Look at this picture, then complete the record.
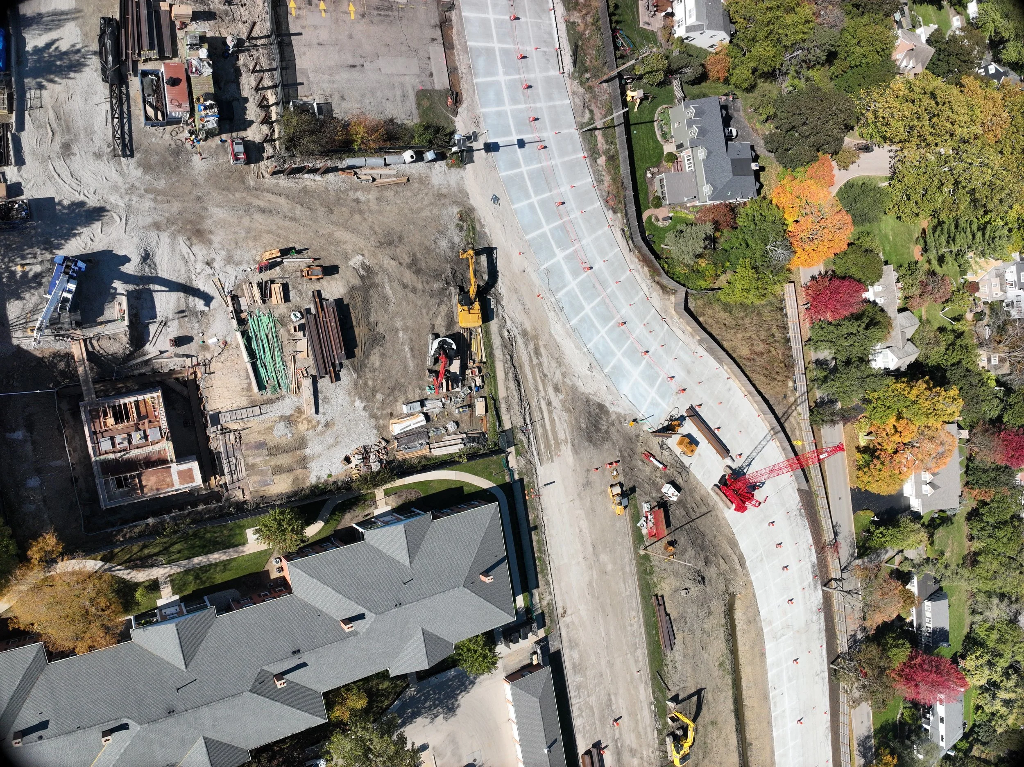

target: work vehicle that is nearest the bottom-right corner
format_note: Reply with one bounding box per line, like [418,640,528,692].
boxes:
[668,711,697,766]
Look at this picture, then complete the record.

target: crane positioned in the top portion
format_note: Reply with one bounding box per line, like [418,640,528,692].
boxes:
[16,252,108,350]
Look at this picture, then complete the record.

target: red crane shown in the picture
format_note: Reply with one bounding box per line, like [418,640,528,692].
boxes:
[716,443,846,520]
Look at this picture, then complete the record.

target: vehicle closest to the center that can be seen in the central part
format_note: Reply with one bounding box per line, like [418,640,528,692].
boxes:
[429,335,459,395]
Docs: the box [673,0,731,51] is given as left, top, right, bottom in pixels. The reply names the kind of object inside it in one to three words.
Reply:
house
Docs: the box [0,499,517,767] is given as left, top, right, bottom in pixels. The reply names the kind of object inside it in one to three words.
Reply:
building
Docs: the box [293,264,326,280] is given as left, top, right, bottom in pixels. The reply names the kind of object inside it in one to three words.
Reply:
work vehicle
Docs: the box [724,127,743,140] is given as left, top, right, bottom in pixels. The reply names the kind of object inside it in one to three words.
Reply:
vehicle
